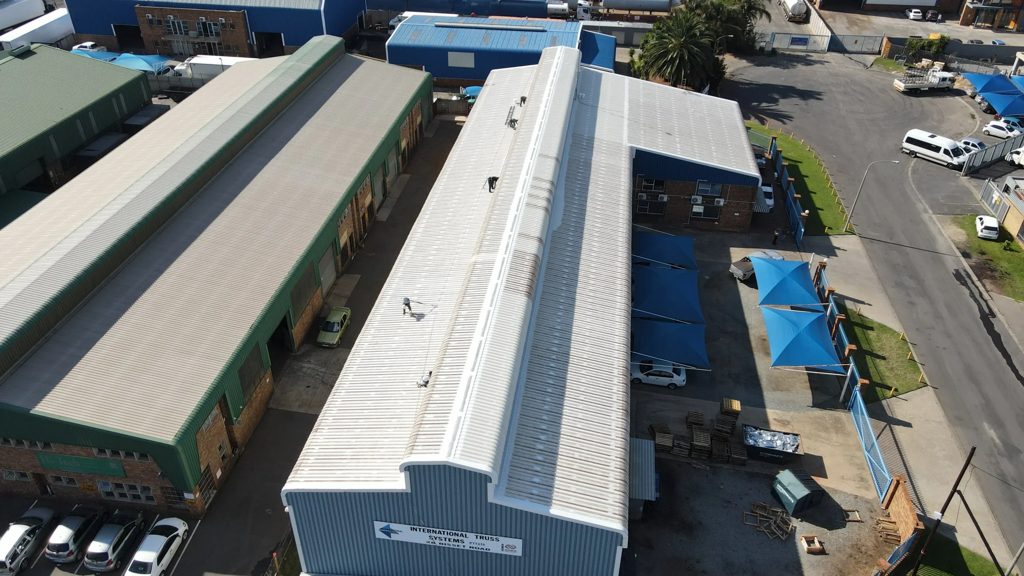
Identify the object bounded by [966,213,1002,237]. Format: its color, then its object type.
white car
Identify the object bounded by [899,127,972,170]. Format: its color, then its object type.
white vehicle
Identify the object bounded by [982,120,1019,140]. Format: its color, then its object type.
white car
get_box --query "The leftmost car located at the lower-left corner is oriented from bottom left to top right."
[0,504,56,575]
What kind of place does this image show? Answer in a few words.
industrial area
